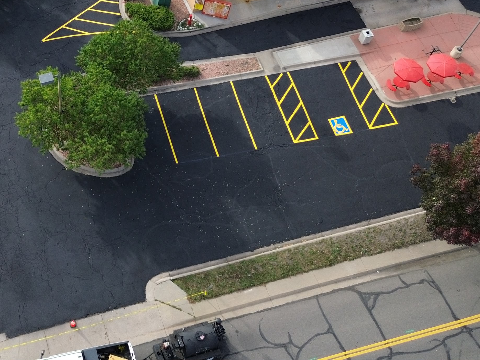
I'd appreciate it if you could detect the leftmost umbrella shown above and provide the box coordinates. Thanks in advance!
[392,59,428,86]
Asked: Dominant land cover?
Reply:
paved ground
